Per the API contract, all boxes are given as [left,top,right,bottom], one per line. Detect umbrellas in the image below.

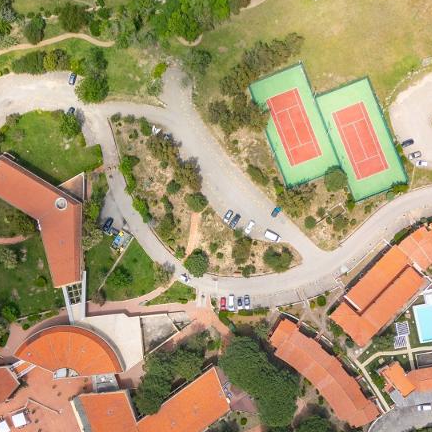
[0,420,10,432]
[12,412,27,428]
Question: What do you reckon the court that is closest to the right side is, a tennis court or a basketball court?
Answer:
tennis court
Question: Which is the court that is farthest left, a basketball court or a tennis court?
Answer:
tennis court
